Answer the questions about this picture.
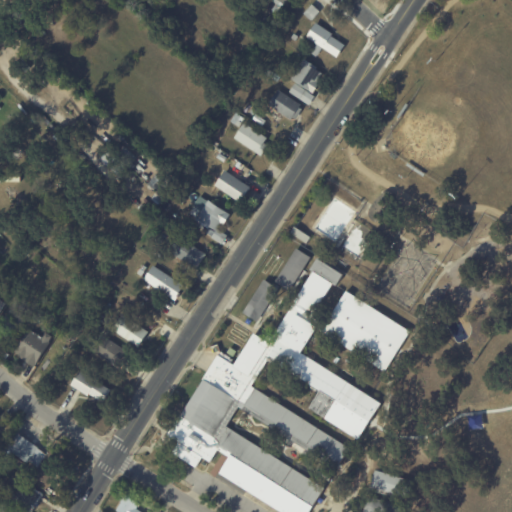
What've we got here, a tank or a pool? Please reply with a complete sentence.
The image shows a pool.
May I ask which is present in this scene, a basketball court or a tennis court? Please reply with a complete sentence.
It is a tennis court that can be seen here.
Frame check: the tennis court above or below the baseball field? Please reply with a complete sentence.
As seen from overhead, the tennis court falls below the baseball field in the picture.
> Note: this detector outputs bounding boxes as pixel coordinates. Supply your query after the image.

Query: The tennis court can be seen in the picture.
[380,241,436,308]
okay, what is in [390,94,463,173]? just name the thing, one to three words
baseball field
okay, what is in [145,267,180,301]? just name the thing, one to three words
house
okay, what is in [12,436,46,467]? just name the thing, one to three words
house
